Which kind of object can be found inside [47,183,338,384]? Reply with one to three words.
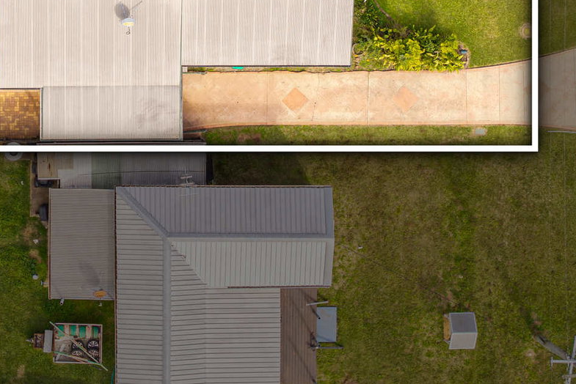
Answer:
house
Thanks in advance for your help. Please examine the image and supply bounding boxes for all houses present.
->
[0,0,355,142]
[47,183,338,384]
